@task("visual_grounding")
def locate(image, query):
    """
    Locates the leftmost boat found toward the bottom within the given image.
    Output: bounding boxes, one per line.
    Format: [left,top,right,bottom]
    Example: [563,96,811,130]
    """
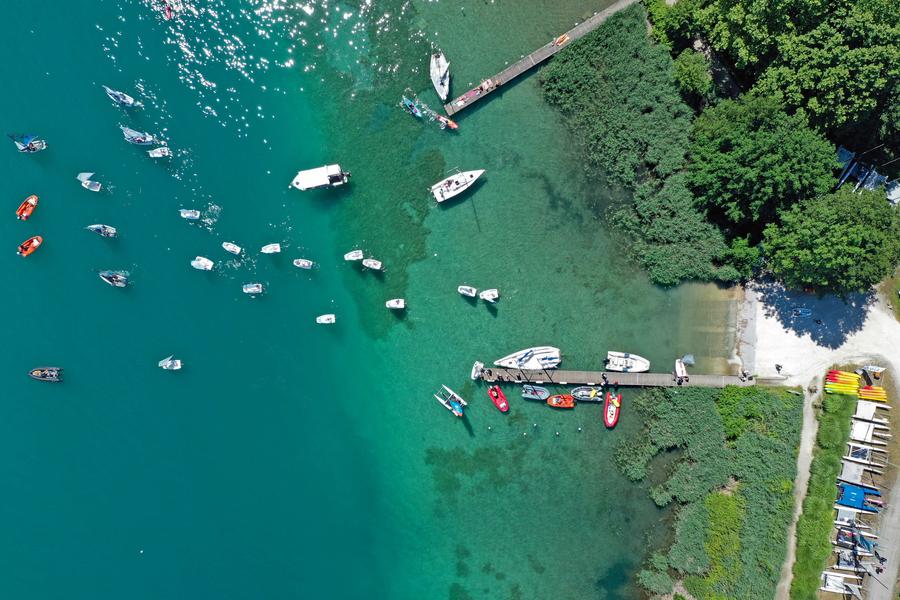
[25,367,65,382]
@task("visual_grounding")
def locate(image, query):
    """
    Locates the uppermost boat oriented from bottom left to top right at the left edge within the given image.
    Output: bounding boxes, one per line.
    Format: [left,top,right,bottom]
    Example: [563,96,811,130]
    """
[12,195,36,222]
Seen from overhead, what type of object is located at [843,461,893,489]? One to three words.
boat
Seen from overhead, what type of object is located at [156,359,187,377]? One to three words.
boat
